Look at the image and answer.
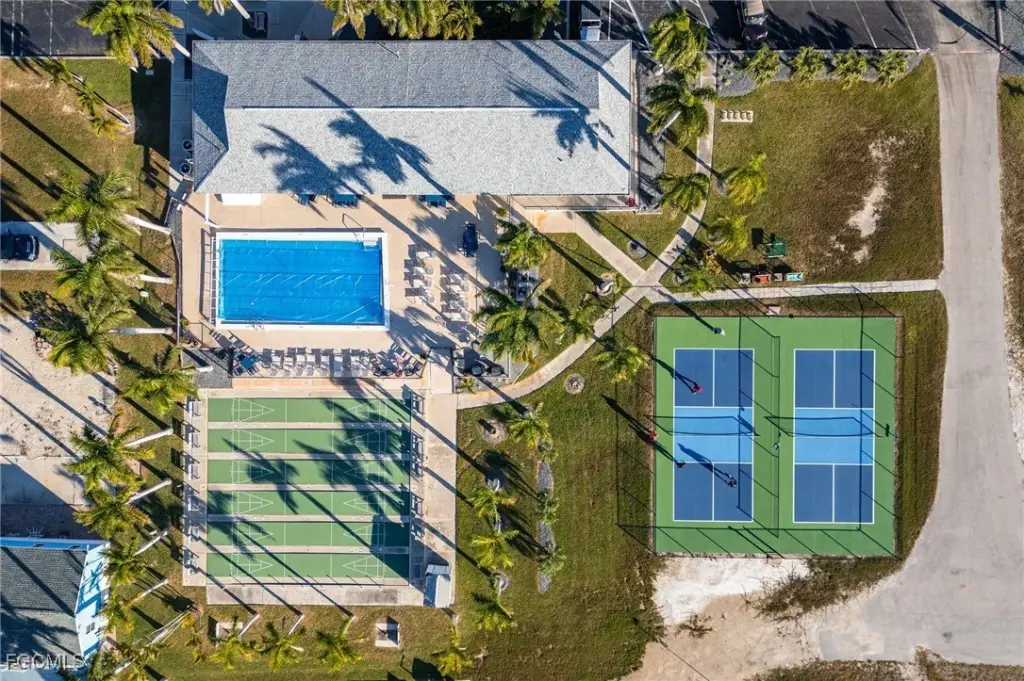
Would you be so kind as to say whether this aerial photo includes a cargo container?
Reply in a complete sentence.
No, no cargo container is visible in the view.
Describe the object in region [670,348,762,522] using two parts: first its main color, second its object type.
blue sports court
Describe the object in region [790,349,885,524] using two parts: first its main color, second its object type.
blue sports court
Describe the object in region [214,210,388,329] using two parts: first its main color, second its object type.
blue swimming pool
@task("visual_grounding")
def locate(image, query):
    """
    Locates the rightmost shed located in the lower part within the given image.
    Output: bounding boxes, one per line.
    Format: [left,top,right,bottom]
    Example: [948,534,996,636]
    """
[424,558,451,611]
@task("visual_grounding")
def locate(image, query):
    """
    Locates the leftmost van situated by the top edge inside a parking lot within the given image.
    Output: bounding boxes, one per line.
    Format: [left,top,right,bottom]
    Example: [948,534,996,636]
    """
[579,0,609,39]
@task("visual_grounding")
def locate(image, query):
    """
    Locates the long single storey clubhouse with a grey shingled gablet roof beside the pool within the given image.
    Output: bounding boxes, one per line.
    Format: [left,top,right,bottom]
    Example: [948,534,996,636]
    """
[192,39,663,214]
